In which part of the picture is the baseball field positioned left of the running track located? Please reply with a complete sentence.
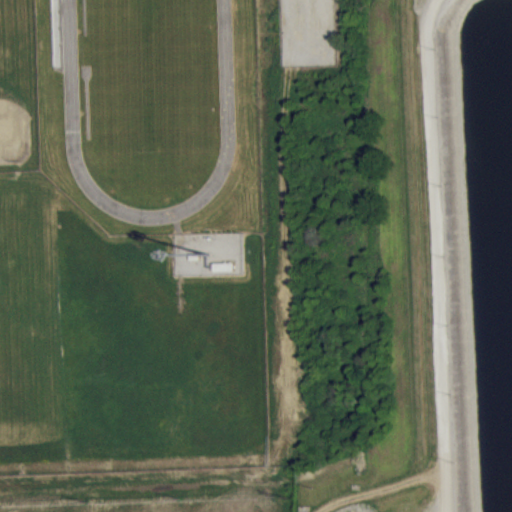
Look in the top left portion of the view to spot the baseball field positioned left of the running track.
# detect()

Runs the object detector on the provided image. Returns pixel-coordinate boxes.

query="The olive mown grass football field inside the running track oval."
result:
[76,0,220,209]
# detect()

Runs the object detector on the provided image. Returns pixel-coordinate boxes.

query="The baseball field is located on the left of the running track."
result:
[0,100,30,165]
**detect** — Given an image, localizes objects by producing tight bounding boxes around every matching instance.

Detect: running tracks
[61,0,236,225]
